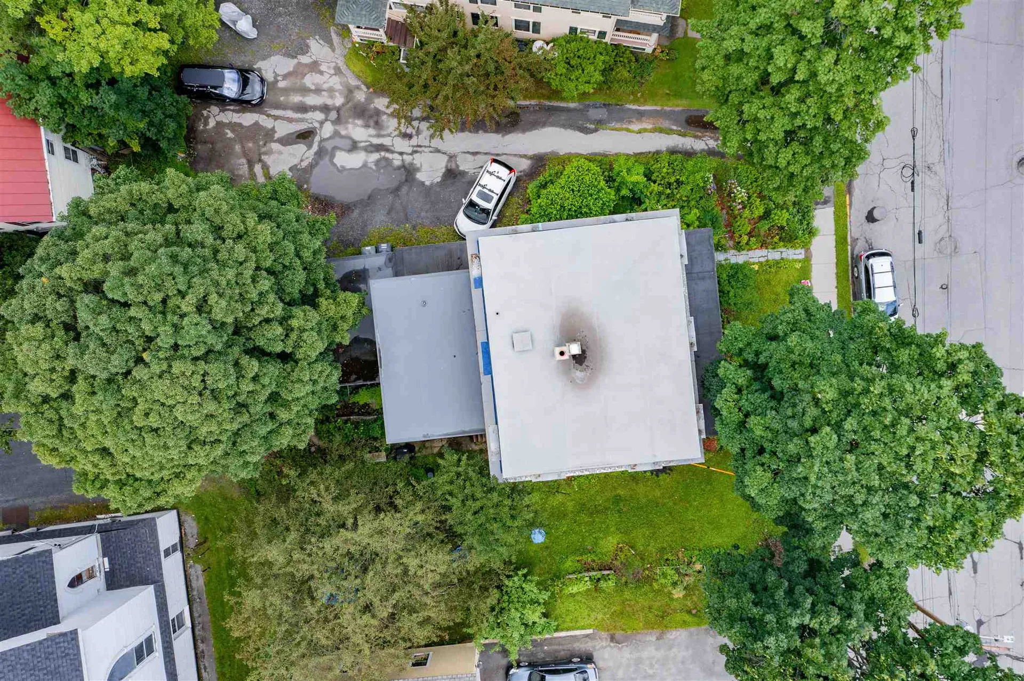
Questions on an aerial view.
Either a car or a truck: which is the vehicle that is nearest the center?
car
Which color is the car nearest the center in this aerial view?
white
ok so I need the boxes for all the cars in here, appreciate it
[456,152,516,235]
[172,60,266,108]
[509,657,600,681]
[854,244,907,328]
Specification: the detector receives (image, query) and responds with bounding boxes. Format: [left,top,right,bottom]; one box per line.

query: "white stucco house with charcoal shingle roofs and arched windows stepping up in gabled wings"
[0,511,199,681]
